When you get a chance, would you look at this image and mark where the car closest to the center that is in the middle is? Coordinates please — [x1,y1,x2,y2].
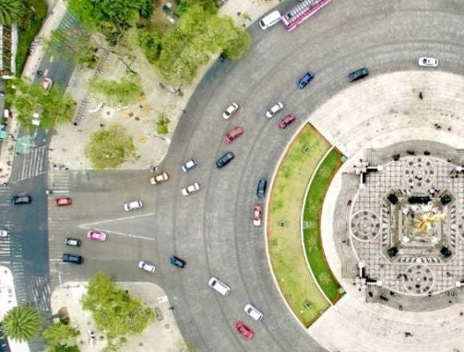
[217,151,235,167]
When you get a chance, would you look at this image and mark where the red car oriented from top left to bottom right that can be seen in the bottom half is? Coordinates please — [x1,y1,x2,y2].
[237,322,256,340]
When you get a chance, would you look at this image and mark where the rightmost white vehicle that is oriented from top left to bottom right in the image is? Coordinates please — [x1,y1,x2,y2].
[244,302,264,321]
